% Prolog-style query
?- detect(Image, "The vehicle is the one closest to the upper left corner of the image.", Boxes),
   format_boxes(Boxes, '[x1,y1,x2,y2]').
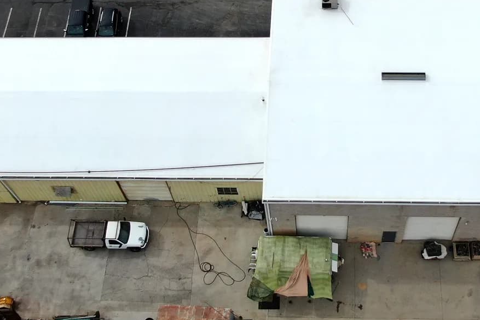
[61,0,94,37]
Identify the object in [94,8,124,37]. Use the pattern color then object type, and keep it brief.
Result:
black car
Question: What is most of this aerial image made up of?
buildings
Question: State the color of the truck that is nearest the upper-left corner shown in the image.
black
